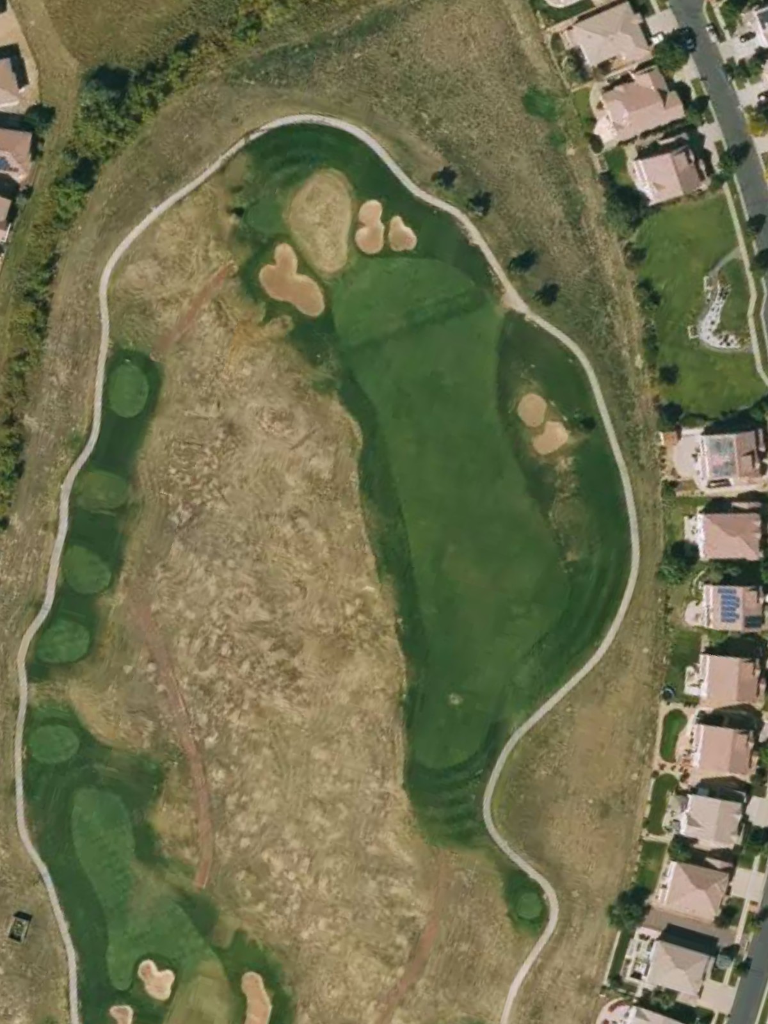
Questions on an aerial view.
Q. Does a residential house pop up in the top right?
Yes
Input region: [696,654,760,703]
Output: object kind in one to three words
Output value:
house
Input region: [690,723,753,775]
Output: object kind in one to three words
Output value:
house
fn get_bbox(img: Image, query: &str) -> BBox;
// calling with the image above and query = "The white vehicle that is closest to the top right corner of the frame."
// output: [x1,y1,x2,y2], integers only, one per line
[705,26,717,42]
